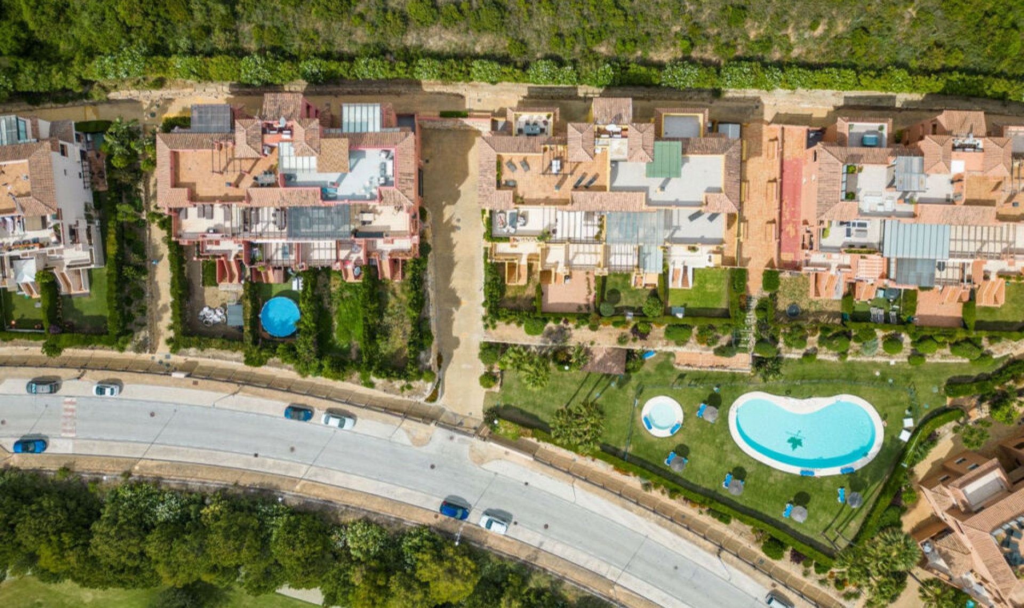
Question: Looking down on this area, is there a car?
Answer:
Yes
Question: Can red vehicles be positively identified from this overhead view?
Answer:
No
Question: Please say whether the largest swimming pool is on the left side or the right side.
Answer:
right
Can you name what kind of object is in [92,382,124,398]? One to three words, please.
car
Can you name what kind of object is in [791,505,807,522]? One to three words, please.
umbrella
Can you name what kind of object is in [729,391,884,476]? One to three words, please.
swimming pool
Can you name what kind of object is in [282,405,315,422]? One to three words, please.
car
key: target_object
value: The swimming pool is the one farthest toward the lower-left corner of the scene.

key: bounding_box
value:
[261,296,301,338]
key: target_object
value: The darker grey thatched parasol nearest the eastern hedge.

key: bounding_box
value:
[846,491,863,508]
